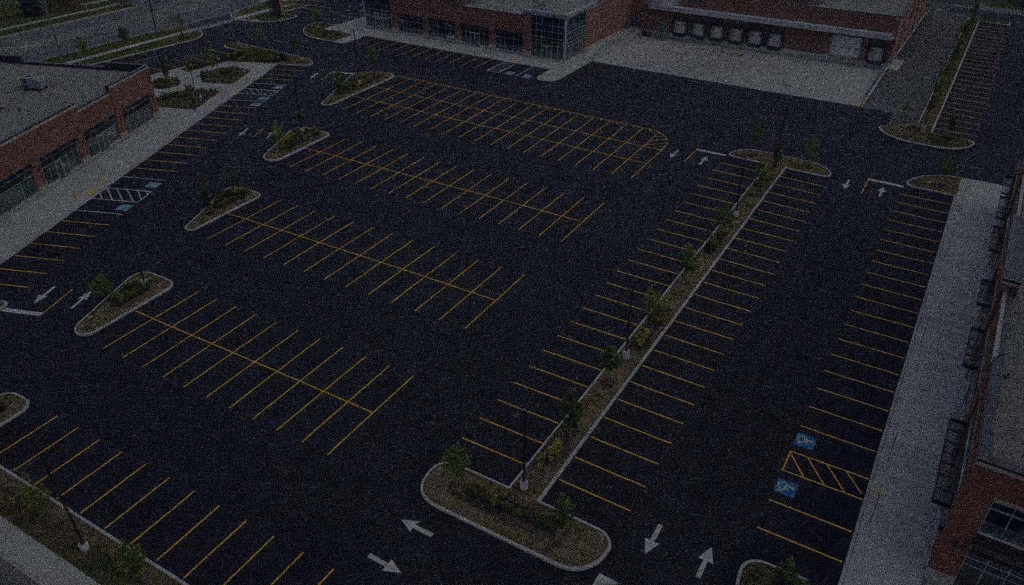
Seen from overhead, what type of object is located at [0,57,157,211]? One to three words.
building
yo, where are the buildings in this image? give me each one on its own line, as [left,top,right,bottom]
[0,57,157,211]
[361,0,929,71]
[923,133,1024,585]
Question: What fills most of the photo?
paved ground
